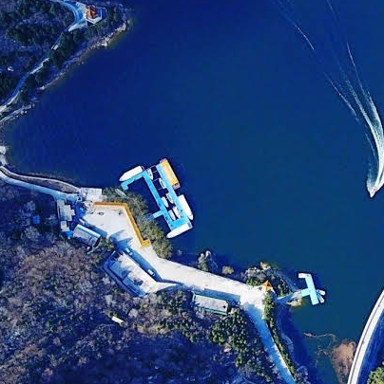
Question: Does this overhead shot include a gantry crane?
No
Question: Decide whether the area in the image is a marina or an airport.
marina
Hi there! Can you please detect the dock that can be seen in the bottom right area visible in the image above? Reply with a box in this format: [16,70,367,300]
[277,273,319,304]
